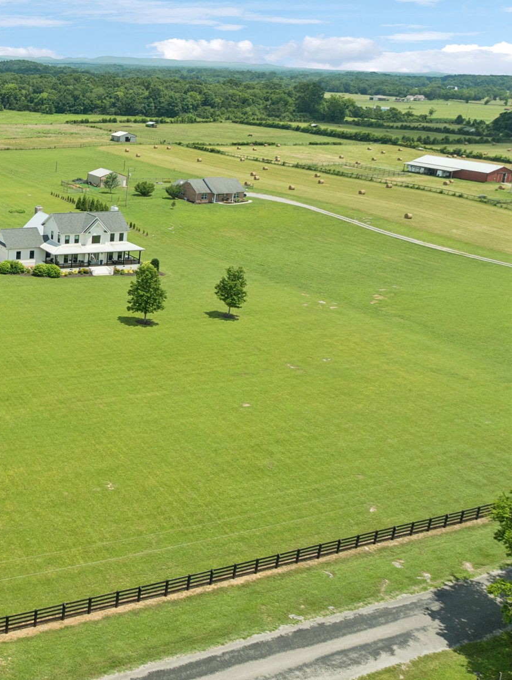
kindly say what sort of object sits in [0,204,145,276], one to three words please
house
